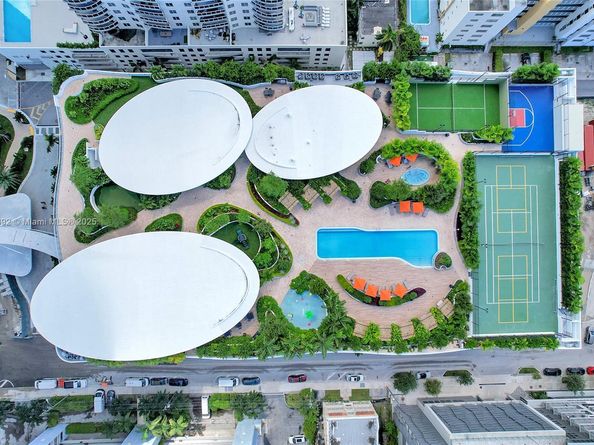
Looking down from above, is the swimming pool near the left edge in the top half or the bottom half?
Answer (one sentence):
You can find the swimming pool near the left edge in the top half.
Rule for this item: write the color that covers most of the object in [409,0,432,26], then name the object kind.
blue swimming pool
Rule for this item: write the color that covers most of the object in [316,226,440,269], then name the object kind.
blue swimming pool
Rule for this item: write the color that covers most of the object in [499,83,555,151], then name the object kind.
blue basketball court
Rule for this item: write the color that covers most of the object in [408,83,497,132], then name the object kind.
green sports court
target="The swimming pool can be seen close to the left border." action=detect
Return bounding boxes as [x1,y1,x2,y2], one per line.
[3,0,32,43]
